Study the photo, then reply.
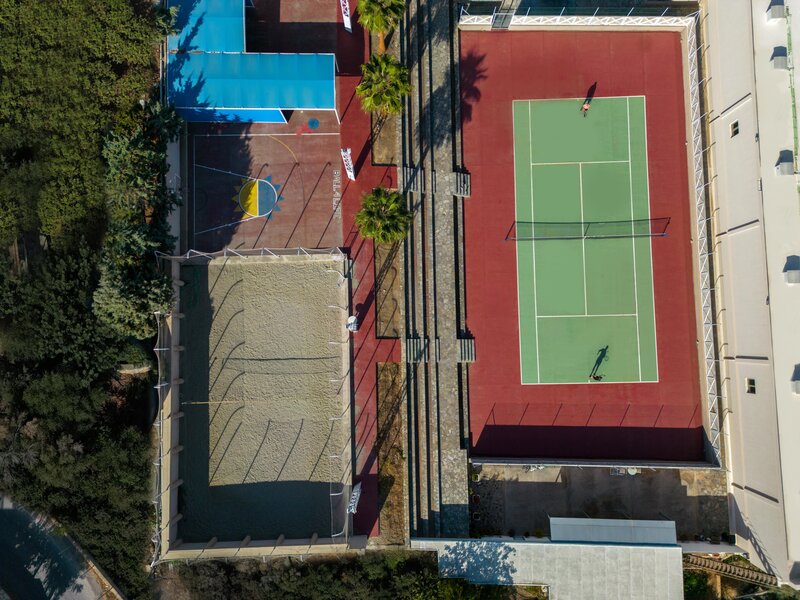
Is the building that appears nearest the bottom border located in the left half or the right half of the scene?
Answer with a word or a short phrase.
right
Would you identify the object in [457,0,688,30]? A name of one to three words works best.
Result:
sports court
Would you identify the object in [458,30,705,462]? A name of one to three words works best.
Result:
tennis court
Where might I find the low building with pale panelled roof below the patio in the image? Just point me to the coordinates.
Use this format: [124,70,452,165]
[410,531,688,600]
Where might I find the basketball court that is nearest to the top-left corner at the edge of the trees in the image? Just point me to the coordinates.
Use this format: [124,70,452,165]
[175,0,342,255]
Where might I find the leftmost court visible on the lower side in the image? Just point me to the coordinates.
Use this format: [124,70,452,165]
[181,263,344,538]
